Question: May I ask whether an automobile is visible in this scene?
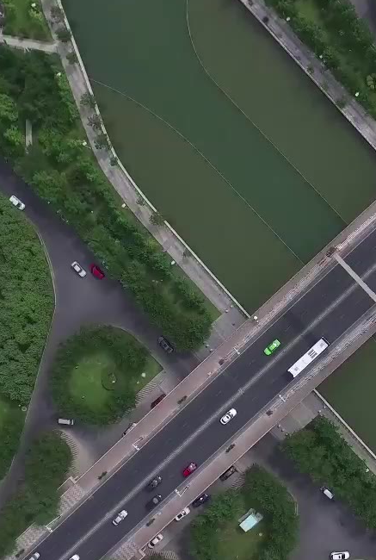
Yes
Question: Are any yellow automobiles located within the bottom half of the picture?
No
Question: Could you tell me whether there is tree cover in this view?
Yes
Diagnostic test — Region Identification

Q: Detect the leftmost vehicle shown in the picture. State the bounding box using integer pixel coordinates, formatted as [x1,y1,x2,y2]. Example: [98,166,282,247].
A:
[9,194,27,211]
